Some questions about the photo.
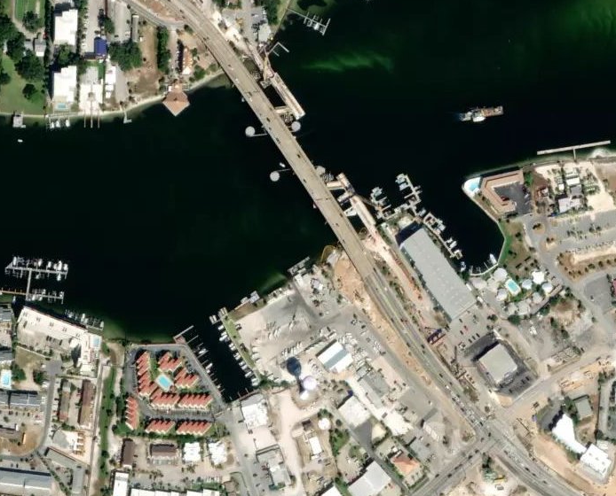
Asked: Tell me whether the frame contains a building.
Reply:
Yes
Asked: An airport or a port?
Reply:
port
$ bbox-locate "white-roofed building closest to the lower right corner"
[580,444,609,481]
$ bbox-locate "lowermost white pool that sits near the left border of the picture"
[0,372,14,388]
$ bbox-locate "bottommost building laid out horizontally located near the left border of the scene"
[0,471,51,492]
